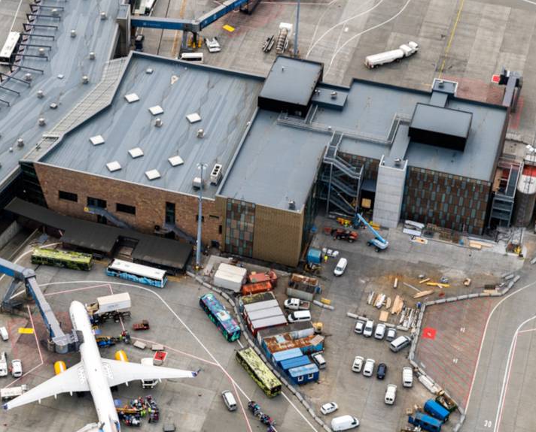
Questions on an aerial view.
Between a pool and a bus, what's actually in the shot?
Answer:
bus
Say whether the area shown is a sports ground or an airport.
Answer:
airport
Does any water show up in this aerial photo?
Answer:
No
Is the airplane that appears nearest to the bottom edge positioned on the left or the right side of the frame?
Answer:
left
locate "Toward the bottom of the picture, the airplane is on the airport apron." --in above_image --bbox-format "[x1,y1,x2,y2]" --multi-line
[5,301,197,432]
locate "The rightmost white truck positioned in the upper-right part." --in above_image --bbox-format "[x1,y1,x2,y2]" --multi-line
[364,46,417,69]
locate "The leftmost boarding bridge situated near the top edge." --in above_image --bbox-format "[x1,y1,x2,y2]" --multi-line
[134,0,263,47]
